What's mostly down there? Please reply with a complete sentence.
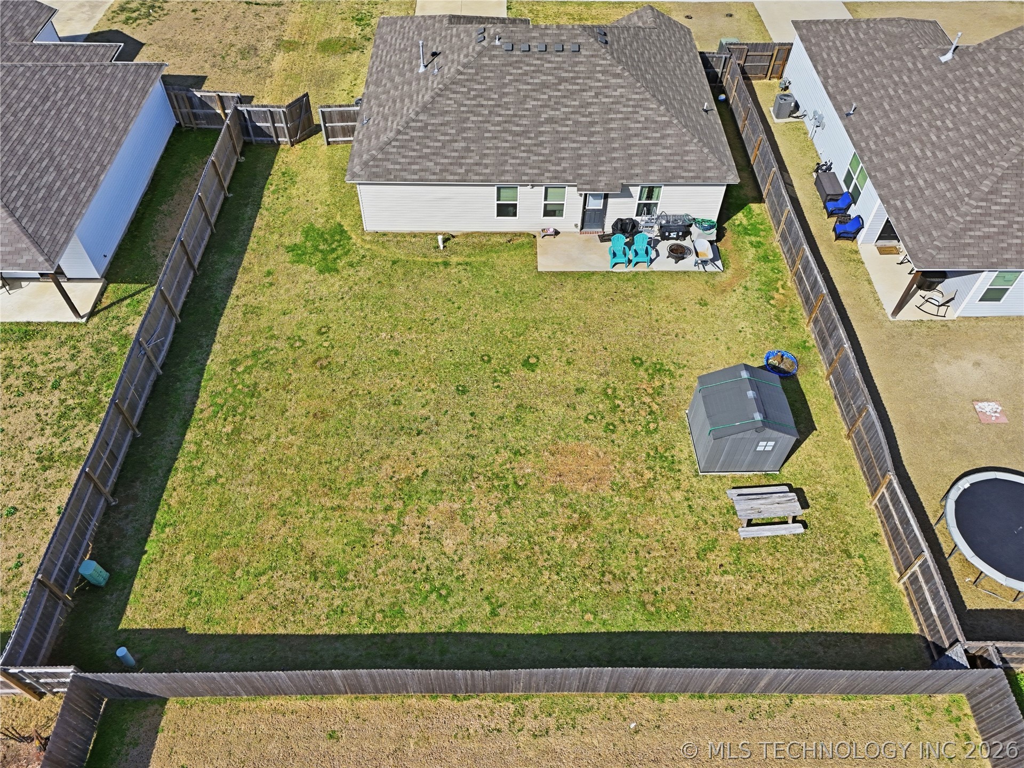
The scene is dominated by grass.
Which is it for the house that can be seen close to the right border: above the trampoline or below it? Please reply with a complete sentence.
The house that can be seen close to the right border is above the trampoline.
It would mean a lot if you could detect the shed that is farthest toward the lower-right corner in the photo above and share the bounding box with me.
[686,365,801,474]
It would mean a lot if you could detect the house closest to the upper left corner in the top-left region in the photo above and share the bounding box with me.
[0,0,176,320]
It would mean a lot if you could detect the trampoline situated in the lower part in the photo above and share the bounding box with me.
[935,472,1024,604]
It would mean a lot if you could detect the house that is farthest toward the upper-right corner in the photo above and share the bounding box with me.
[787,13,1024,318]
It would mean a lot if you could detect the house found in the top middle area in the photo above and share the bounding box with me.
[343,2,740,235]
